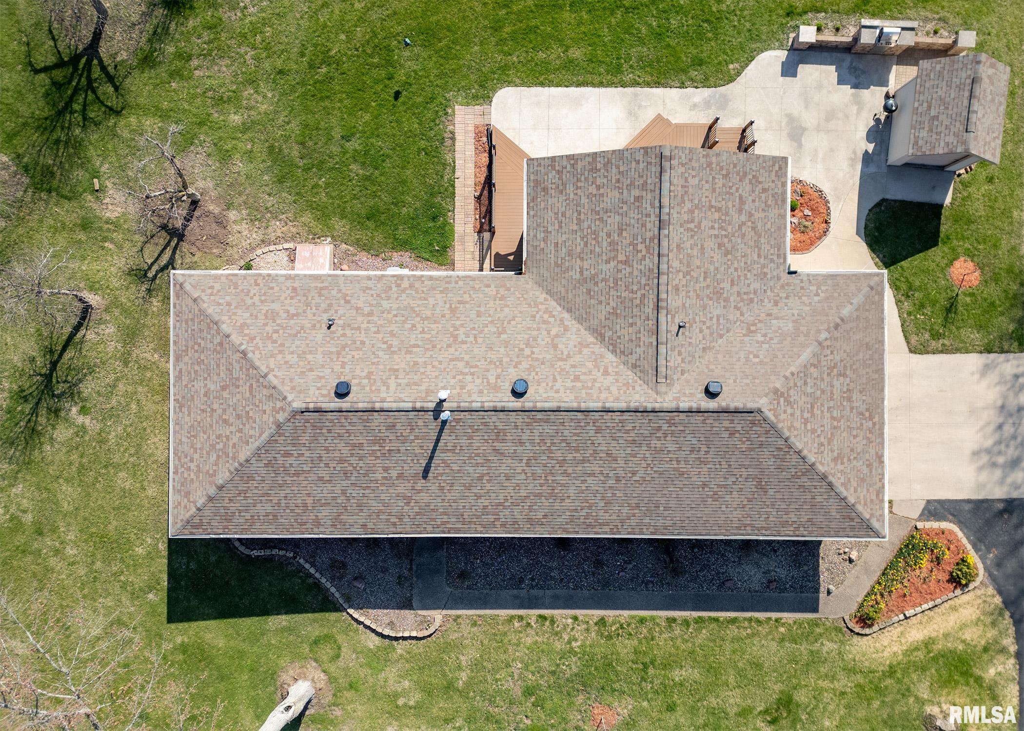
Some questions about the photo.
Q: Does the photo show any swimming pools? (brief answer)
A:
No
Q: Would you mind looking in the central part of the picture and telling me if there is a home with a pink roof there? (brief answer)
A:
No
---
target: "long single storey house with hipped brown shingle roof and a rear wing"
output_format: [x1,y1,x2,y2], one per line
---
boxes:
[170,146,887,539]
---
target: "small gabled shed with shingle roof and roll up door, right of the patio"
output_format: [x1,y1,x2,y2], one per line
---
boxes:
[887,54,1008,173]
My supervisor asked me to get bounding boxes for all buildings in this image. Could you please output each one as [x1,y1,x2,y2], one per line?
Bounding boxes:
[887,54,1008,173]
[170,146,887,539]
